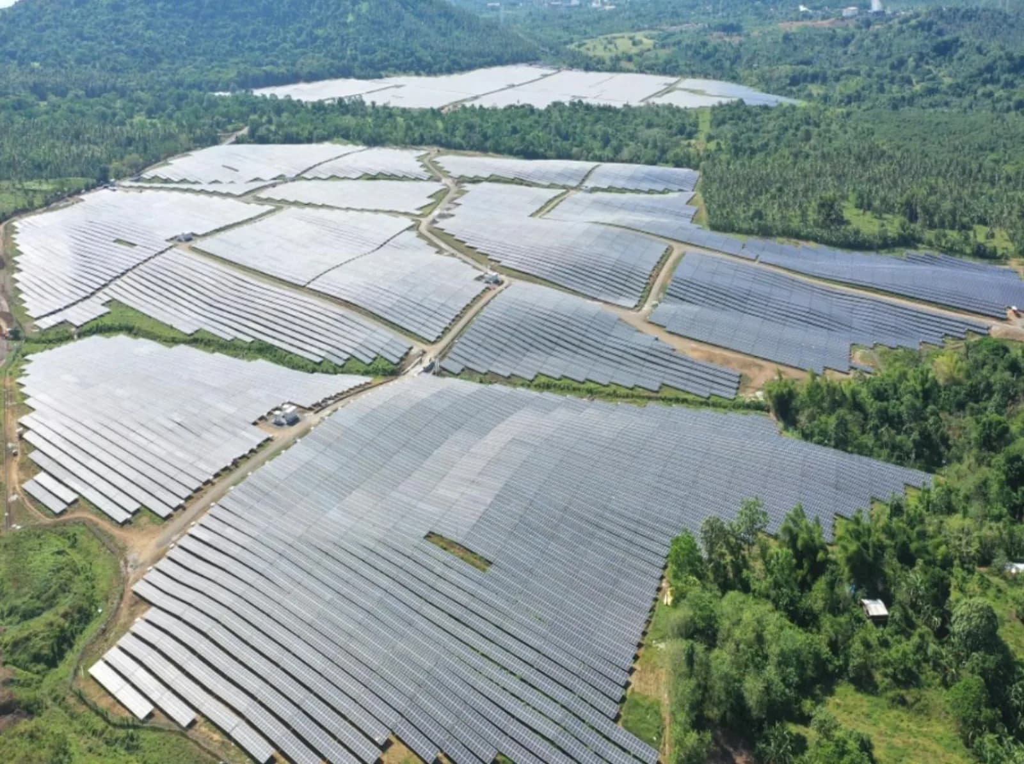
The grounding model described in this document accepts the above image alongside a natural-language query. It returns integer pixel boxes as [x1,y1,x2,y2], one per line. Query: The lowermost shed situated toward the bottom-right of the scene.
[864,603,892,624]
